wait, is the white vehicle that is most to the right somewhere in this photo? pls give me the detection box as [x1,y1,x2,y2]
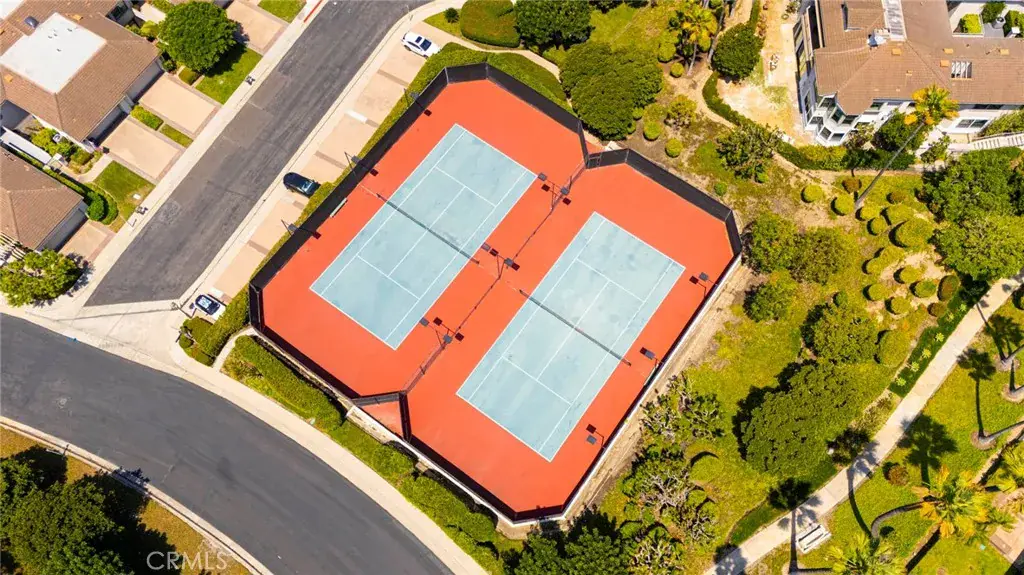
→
[399,30,441,60]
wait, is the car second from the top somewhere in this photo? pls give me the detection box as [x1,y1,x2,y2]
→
[280,170,320,197]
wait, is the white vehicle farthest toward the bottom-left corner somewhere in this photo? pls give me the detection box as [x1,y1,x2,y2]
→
[190,289,227,318]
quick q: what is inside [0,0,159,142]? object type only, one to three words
house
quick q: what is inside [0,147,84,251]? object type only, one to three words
house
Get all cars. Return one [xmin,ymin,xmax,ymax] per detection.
[280,170,320,197]
[399,30,441,60]
[190,289,227,318]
